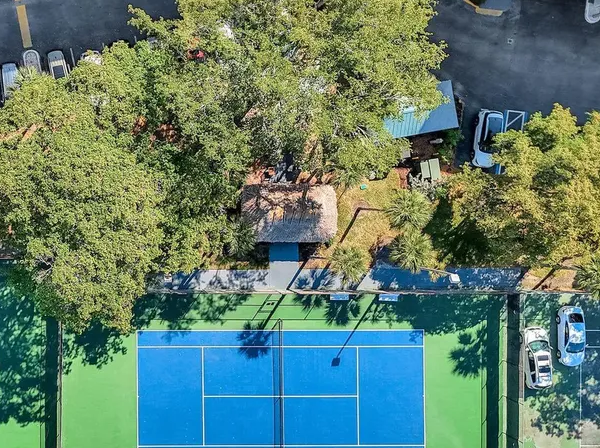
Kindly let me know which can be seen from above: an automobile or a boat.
automobile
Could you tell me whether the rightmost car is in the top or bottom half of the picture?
bottom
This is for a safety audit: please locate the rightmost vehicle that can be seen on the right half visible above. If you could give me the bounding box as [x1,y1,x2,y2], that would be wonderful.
[553,306,587,367]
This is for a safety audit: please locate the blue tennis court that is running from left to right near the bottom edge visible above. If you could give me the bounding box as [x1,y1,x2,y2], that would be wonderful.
[63,292,506,448]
